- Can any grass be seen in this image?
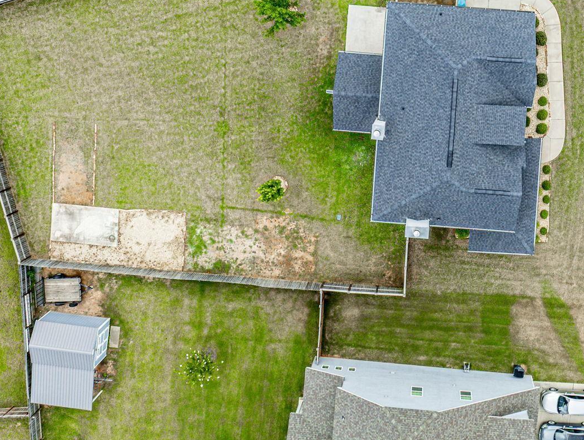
Yes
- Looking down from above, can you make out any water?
No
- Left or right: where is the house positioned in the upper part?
right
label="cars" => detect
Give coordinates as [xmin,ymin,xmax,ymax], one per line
[540,388,584,421]
[539,421,584,440]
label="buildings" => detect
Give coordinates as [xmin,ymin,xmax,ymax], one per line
[326,0,544,256]
[23,311,111,411]
[283,357,540,440]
